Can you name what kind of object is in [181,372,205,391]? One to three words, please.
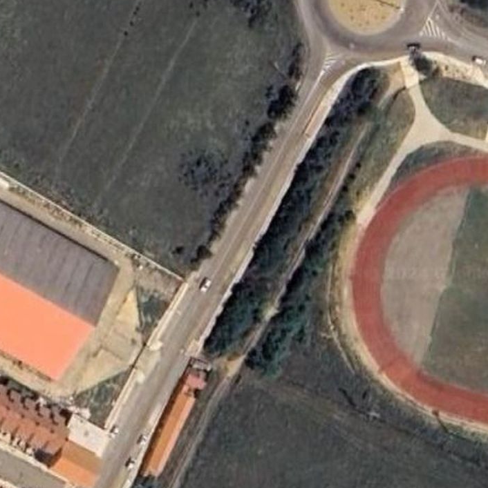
shed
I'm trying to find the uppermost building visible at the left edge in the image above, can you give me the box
[0,203,118,382]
